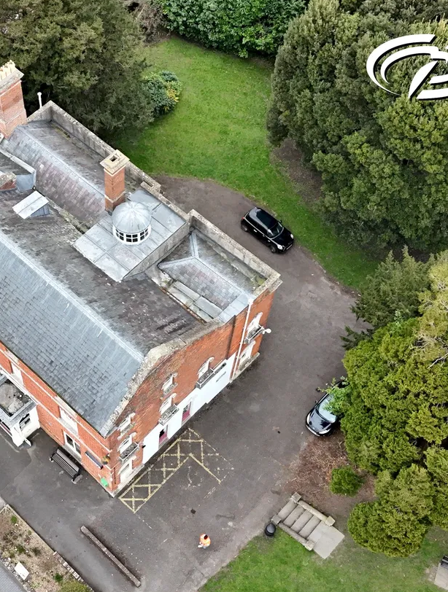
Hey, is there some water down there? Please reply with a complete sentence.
No, water can't be seen anywhere here.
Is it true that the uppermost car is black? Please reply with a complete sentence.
Yes, the uppermost car appears black.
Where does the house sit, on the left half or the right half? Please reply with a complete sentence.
The house is on the left side of the image.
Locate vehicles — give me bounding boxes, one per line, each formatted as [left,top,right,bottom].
[237,206,292,252]
[303,375,357,438]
